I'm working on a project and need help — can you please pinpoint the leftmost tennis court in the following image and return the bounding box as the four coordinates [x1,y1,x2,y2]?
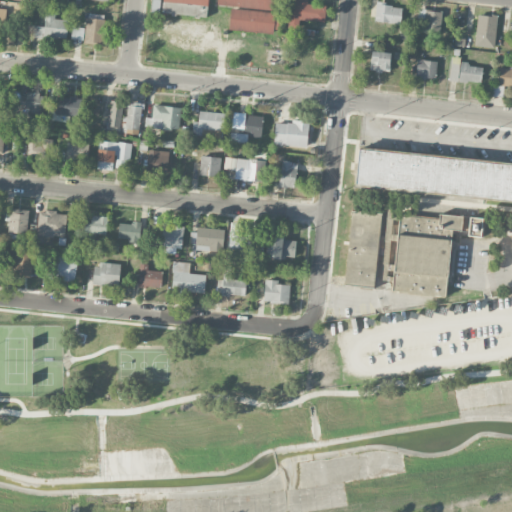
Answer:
[0,326,34,396]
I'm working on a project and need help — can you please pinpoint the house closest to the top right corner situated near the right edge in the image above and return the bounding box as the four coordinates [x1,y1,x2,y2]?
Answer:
[475,14,500,48]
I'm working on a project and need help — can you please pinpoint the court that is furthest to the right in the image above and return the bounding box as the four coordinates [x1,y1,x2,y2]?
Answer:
[118,350,170,382]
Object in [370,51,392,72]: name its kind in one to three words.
house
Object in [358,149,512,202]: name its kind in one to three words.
building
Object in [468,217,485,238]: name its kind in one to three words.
building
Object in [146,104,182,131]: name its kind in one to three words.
house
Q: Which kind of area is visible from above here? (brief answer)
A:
residential area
